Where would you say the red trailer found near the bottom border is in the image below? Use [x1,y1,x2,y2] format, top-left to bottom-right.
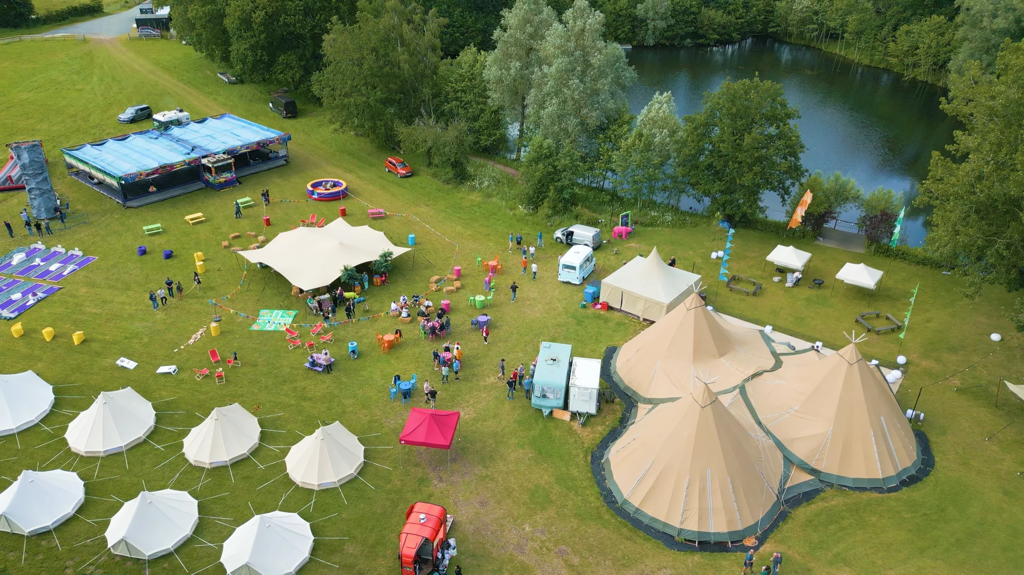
[390,505,465,575]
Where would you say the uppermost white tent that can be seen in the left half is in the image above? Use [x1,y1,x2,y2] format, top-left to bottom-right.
[216,218,441,338]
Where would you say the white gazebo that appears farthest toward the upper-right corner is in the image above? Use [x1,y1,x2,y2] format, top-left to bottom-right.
[830,263,883,310]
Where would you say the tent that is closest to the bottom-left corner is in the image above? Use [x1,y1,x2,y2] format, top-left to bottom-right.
[0,457,123,558]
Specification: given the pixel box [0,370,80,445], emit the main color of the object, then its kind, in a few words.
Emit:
white tent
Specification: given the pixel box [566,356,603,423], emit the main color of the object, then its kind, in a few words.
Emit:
white trailer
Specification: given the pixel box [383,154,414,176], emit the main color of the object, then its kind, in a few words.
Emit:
red car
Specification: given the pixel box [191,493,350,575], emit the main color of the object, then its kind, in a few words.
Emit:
white tent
